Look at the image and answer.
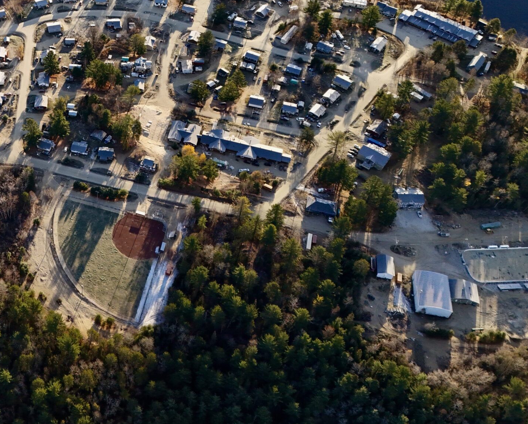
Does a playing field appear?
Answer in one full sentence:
Yes, the photo shows a playing field.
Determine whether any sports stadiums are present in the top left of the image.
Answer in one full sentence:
No, in the top left of the image there is no sports stadium.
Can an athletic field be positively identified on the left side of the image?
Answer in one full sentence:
Yes, looking on the left side of the image, one can make out an athletic field.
